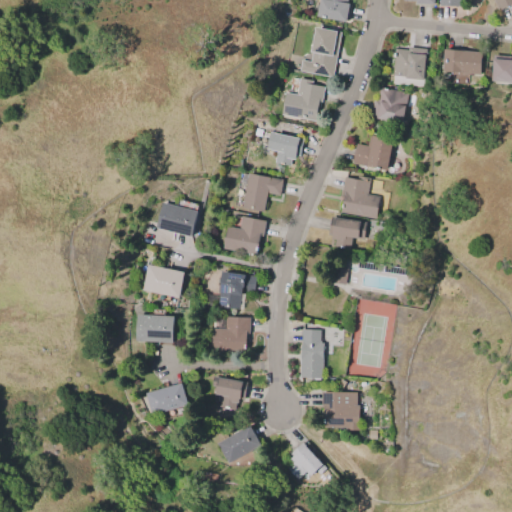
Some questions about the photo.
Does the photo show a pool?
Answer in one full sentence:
Yes, there's a pool down there.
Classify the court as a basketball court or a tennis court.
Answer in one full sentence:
It turns out the court is a tennis court.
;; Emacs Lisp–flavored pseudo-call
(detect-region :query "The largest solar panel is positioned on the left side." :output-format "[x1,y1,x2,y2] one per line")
[160,220,191,234]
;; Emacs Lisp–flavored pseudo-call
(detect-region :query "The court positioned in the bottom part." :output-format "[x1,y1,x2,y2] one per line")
[350,298,398,378]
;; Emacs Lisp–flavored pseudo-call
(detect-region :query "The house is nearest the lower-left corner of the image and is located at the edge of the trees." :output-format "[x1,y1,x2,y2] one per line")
[147,384,186,411]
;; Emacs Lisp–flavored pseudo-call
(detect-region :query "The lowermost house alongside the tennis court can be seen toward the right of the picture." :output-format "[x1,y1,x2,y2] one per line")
[324,392,361,432]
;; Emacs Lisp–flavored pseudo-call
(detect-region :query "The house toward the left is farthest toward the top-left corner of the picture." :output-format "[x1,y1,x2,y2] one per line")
[158,202,198,236]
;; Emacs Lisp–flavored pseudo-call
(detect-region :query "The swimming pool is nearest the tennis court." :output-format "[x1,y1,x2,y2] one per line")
[352,263,411,297]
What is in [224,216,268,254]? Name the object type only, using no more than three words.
house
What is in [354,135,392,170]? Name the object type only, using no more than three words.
house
